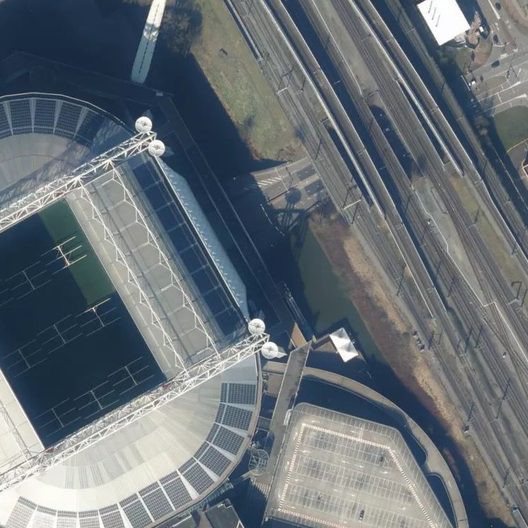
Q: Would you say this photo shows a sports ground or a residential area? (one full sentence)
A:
The picture captures a sports ground.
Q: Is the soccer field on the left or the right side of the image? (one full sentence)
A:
It is on the left.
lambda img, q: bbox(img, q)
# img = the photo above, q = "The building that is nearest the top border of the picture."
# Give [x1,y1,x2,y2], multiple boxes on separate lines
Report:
[416,0,471,45]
